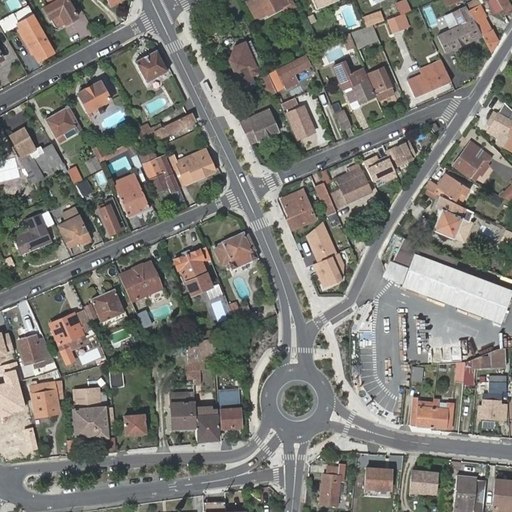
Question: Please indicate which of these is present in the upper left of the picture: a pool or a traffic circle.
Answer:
pool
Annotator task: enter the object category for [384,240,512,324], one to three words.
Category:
building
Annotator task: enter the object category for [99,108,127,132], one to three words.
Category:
swimming pool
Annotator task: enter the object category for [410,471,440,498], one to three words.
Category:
house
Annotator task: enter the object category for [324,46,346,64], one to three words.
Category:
swimming pool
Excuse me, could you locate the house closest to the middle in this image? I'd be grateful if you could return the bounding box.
[214,232,255,269]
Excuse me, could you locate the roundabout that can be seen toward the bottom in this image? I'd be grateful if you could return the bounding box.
[262,363,335,438]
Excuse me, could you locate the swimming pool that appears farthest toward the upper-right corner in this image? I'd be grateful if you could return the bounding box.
[422,4,438,28]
